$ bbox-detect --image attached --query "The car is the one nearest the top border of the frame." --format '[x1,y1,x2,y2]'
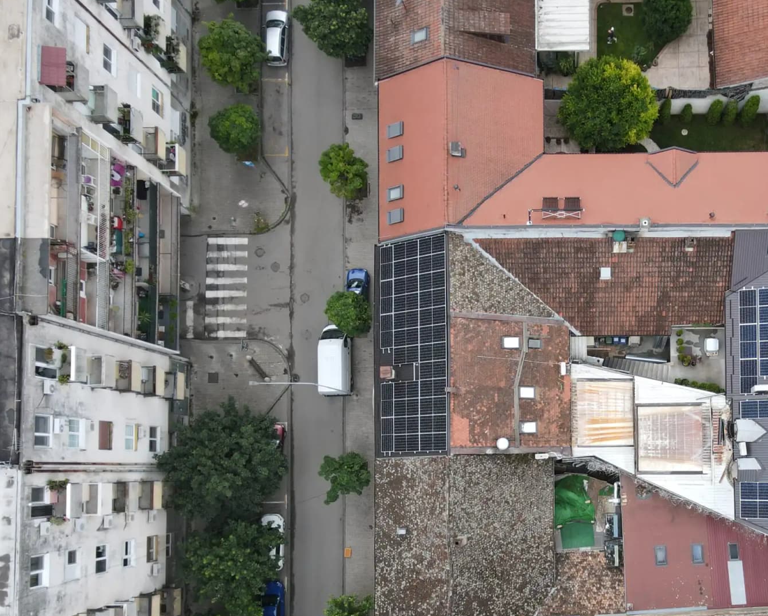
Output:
[261,8,290,64]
